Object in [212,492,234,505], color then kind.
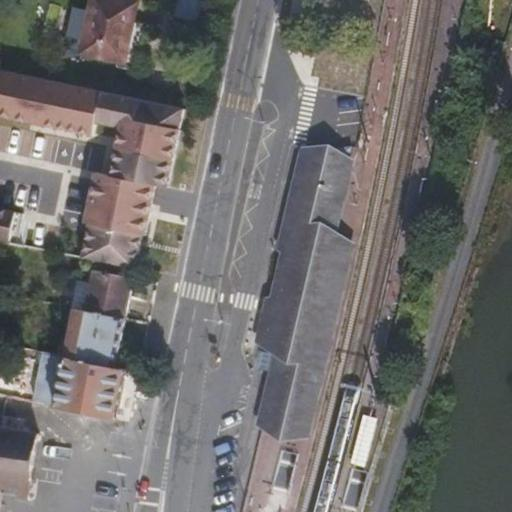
white vehicle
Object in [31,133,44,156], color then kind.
white vehicle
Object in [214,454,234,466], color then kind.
gray vehicle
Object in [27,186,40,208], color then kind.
gray vehicle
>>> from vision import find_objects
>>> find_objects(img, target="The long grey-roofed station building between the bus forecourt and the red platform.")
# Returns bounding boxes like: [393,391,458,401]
[255,144,354,440]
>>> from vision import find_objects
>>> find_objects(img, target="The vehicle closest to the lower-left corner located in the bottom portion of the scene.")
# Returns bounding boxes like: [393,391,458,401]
[43,446,72,460]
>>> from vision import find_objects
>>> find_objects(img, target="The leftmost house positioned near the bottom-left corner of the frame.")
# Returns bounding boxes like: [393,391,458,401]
[0,426,36,500]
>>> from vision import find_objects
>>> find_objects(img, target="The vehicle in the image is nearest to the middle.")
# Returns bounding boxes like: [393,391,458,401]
[209,154,222,176]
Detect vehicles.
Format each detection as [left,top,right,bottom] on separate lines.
[212,492,234,505]
[8,130,21,152]
[0,182,12,205]
[209,154,222,176]
[96,484,118,497]
[43,446,72,460]
[214,454,234,466]
[214,506,236,512]
[27,186,40,208]
[14,184,26,206]
[214,442,237,455]
[33,224,44,245]
[222,412,243,426]
[214,466,234,478]
[64,184,85,196]
[336,96,359,108]
[31,133,44,156]
[214,478,236,491]
[62,198,82,210]
[138,478,148,499]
